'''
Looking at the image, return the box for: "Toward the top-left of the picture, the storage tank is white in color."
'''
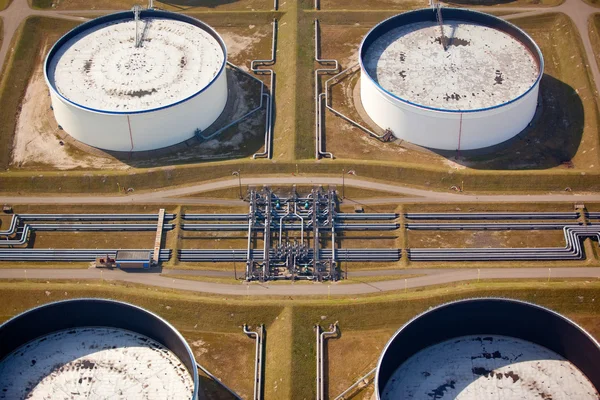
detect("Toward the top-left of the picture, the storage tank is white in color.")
[43,0,236,156]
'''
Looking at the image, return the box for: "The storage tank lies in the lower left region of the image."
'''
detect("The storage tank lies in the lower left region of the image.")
[0,296,210,400]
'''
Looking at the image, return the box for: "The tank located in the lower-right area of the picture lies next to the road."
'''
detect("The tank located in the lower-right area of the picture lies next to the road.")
[367,295,600,400]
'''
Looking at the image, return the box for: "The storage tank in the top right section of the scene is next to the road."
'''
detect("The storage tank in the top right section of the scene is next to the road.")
[352,0,546,155]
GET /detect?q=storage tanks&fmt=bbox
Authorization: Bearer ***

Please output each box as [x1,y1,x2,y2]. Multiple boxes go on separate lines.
[0,296,210,400]
[352,0,546,155]
[43,0,236,156]
[367,295,600,400]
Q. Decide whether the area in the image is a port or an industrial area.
industrial area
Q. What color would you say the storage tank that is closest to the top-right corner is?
white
